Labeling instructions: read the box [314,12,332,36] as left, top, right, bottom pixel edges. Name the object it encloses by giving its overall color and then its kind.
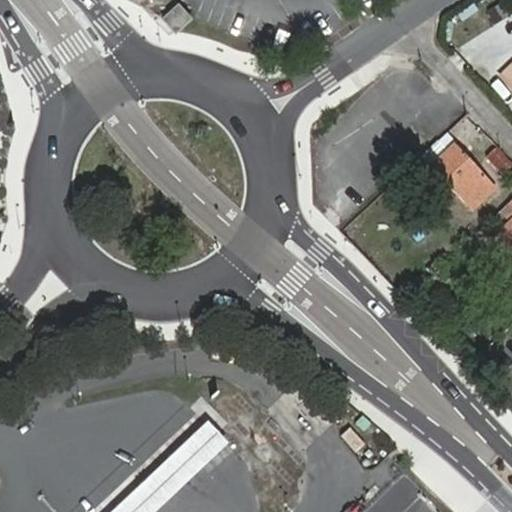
white car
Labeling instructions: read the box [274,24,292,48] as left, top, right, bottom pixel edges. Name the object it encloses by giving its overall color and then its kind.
white vehicle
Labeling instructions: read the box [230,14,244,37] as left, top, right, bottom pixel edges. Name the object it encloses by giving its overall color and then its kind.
white car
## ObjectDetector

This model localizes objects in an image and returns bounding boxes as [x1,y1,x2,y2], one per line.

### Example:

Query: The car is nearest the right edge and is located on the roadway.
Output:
[440,378,461,400]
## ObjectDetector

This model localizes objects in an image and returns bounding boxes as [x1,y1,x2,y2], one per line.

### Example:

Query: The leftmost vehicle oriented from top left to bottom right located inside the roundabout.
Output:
[230,116,248,138]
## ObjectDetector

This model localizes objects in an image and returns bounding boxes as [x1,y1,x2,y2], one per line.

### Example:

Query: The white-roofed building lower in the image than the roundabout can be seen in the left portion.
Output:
[112,422,228,512]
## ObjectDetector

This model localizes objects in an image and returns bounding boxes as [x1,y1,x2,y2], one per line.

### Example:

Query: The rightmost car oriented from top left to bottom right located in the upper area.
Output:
[344,184,365,206]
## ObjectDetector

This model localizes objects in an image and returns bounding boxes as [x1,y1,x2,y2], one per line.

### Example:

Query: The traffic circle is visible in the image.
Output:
[24,34,300,322]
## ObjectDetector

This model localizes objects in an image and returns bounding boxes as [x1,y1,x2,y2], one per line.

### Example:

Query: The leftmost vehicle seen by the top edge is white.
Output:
[4,13,20,34]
